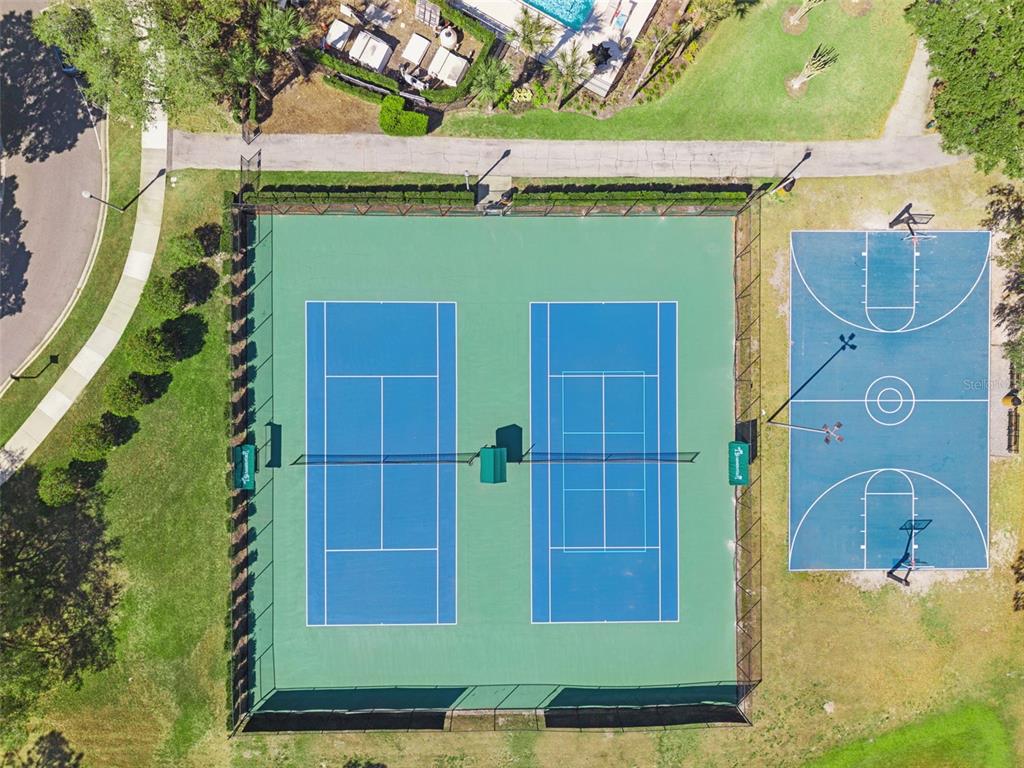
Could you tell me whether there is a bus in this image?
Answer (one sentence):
No, I find no bus anywhere in the image.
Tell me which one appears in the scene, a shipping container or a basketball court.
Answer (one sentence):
The image shows a basketball court.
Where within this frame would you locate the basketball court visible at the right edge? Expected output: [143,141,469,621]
[789,231,991,571]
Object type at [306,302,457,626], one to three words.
tennis court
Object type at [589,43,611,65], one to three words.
umbrella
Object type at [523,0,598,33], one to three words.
swimming pool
